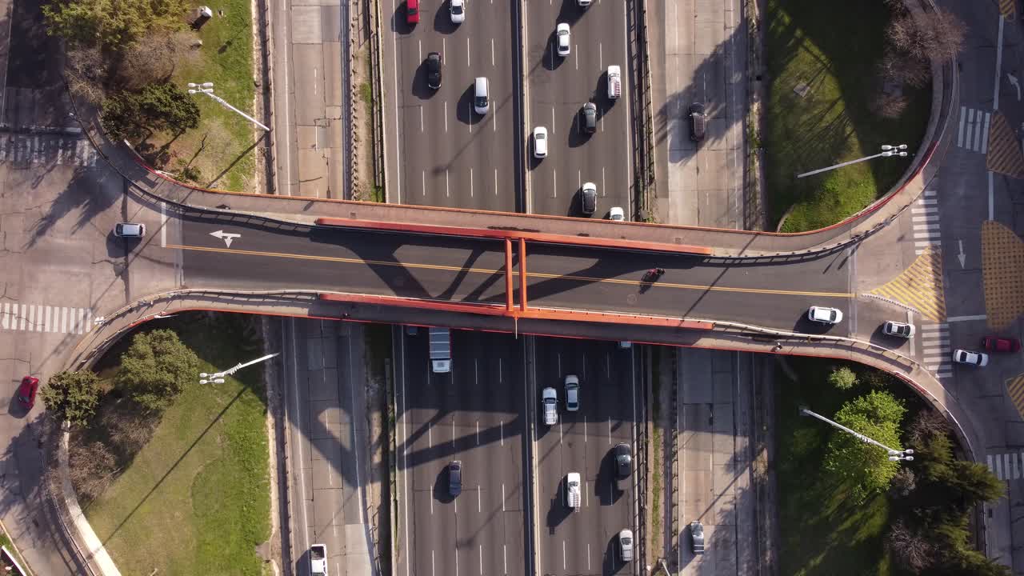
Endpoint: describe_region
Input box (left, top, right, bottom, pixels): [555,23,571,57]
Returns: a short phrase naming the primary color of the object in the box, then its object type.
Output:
white car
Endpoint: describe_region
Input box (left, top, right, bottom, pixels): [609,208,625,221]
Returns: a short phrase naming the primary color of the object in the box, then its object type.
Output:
white vehicle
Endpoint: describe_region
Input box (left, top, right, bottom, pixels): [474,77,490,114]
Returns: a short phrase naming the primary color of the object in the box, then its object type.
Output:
white vehicle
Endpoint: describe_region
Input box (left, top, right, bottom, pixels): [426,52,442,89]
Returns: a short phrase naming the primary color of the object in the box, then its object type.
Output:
black car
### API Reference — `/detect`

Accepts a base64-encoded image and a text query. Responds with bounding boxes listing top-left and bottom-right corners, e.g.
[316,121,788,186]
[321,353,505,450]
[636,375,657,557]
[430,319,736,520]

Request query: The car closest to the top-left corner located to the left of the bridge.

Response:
[113,222,147,238]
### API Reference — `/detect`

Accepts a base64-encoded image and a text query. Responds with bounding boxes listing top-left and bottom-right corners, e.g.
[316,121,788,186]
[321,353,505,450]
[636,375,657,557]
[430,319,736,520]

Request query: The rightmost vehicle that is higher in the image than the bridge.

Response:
[689,103,706,140]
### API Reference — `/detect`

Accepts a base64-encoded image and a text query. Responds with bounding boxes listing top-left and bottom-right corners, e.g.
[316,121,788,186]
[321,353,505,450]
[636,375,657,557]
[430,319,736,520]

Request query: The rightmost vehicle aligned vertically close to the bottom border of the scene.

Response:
[689,521,706,555]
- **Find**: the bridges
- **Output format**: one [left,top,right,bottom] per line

[165,184,856,361]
